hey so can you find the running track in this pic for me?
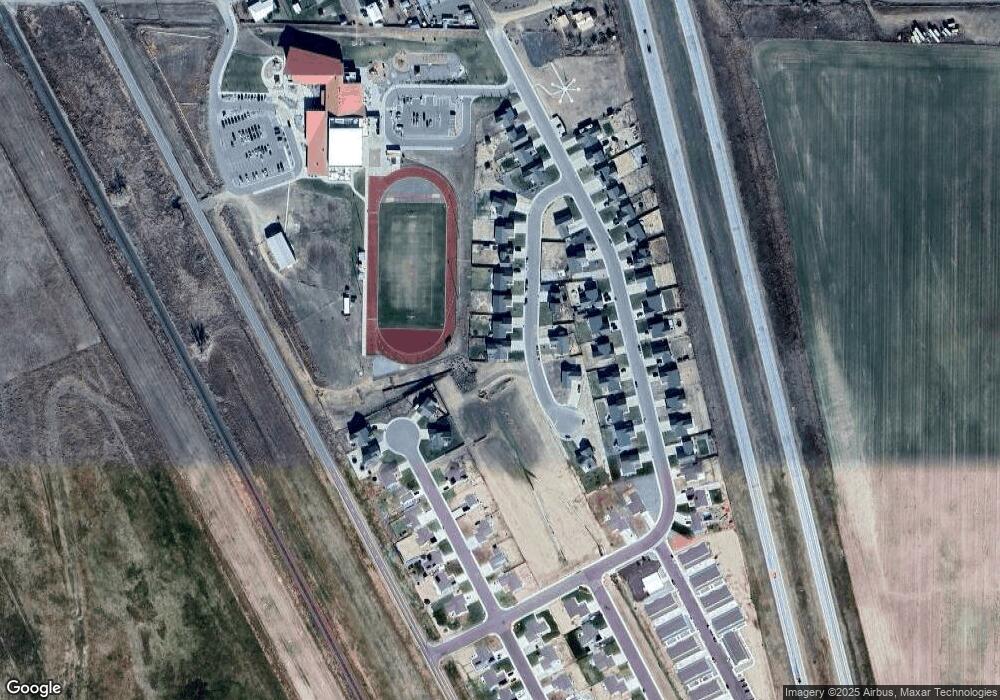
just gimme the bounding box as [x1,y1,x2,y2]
[367,166,457,363]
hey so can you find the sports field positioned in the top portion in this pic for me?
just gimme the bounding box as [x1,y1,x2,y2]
[379,203,445,327]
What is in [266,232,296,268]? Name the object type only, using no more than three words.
barn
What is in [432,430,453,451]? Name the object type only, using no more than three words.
house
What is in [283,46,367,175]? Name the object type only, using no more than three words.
building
